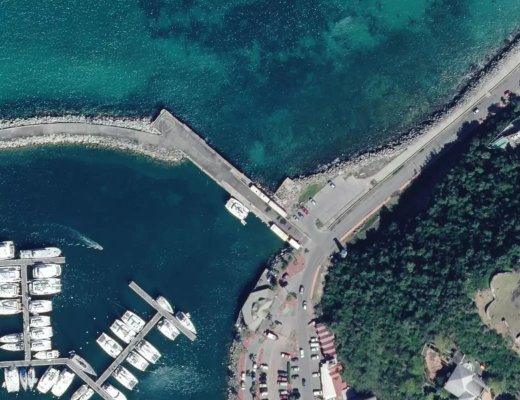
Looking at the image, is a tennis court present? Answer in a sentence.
No, the frame has no tennis court in it.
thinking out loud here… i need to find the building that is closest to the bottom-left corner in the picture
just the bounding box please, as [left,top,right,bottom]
[241,288,276,331]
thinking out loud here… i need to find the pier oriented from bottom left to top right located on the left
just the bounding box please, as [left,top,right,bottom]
[95,312,163,386]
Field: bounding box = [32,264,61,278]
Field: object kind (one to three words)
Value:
boat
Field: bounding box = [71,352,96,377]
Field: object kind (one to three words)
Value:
boat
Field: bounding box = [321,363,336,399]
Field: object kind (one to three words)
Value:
building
